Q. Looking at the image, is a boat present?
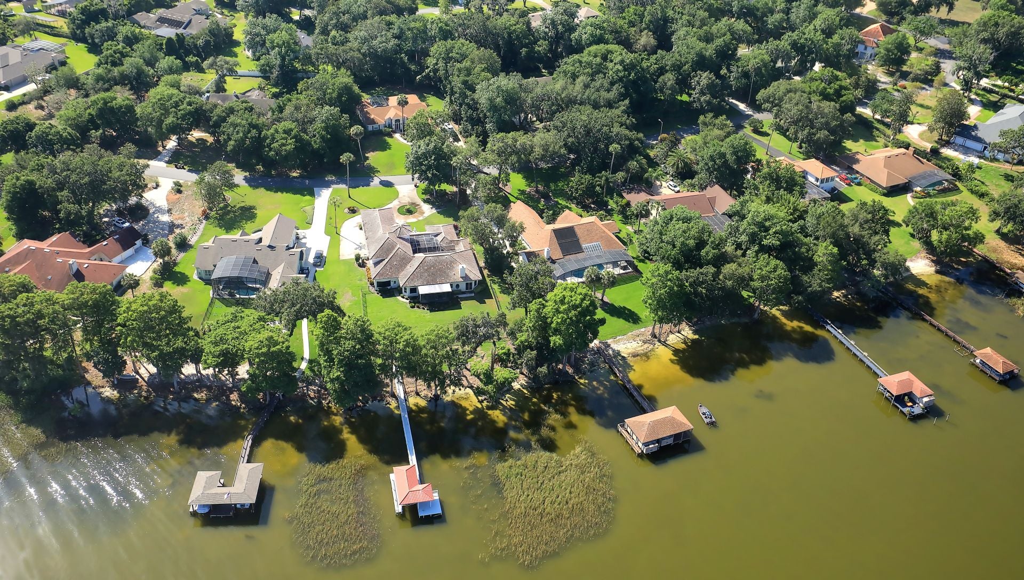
Yes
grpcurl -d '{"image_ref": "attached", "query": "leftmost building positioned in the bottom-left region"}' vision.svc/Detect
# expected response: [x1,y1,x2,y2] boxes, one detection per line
[188,462,264,520]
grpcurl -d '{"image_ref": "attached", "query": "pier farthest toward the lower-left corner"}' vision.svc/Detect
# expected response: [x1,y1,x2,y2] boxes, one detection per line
[227,393,285,487]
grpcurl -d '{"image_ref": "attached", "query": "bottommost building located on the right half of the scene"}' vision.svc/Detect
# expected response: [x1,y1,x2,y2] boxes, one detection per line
[614,405,694,458]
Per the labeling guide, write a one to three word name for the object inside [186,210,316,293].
house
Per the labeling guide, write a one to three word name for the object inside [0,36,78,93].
house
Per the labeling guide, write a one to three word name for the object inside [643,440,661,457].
boat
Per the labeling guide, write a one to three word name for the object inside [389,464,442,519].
building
